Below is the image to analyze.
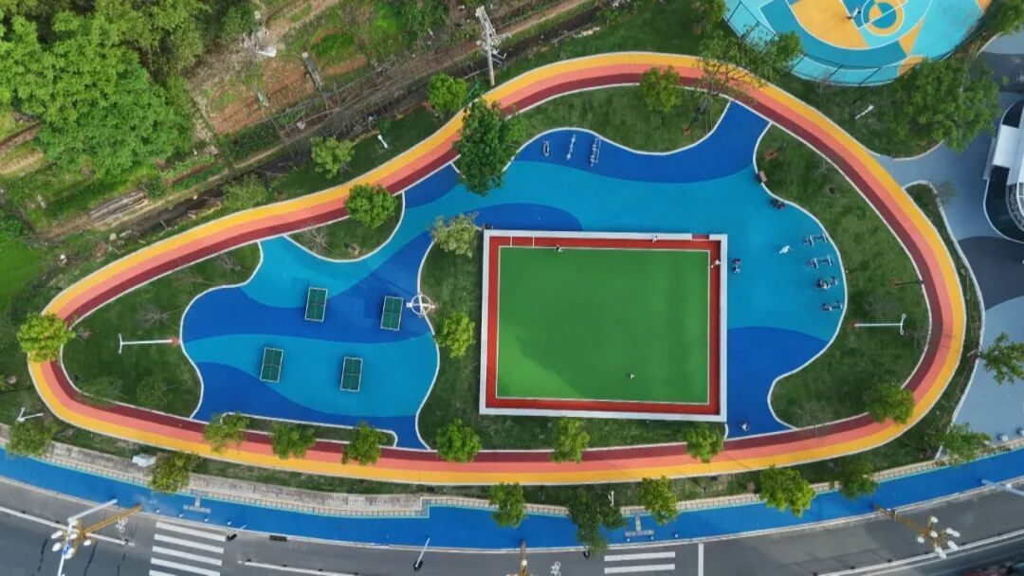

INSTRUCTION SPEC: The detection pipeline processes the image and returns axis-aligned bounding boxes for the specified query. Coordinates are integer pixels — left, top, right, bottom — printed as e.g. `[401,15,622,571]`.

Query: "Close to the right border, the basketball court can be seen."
[712,0,990,87]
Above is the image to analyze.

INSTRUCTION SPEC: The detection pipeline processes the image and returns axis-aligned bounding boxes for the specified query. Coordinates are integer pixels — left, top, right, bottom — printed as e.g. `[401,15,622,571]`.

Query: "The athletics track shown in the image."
[27,50,968,487]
